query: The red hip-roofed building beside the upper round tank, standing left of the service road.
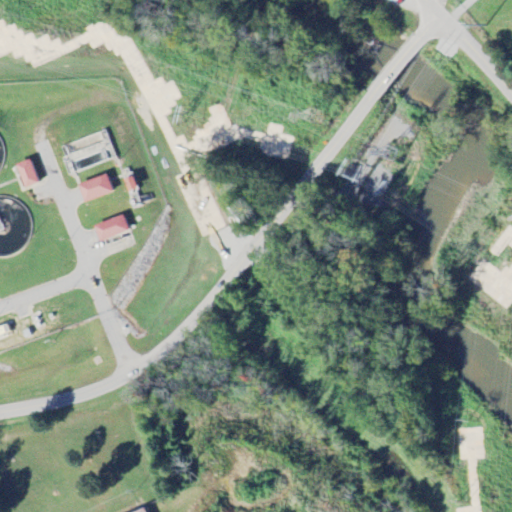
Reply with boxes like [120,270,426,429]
[14,158,39,187]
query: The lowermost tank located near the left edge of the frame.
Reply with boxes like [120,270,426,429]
[0,192,35,260]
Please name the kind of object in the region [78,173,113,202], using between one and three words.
building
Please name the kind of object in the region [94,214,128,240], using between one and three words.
building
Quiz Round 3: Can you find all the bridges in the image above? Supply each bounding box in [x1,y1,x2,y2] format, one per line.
[376,40,423,90]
